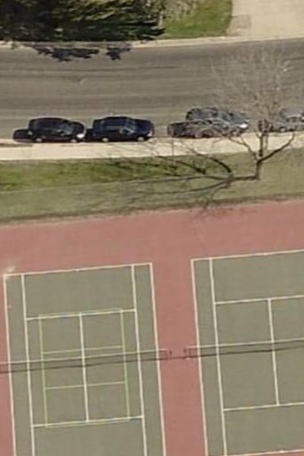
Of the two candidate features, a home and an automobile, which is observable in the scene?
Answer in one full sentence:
I can see an automobile in this picture.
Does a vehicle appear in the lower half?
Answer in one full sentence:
No, I can find no vehicle in the lower half.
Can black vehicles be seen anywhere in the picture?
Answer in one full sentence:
Yes, there's a black vehicle here.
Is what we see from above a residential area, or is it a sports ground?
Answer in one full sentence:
It's a sports ground.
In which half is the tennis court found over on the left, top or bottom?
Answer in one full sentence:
The bottom half of the photo is where the tennis court found over on the left is.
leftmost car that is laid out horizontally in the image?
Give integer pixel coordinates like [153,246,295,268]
[26,113,86,140]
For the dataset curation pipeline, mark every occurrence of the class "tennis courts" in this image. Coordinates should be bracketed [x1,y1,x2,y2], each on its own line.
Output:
[165,198,304,456]
[0,210,183,456]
